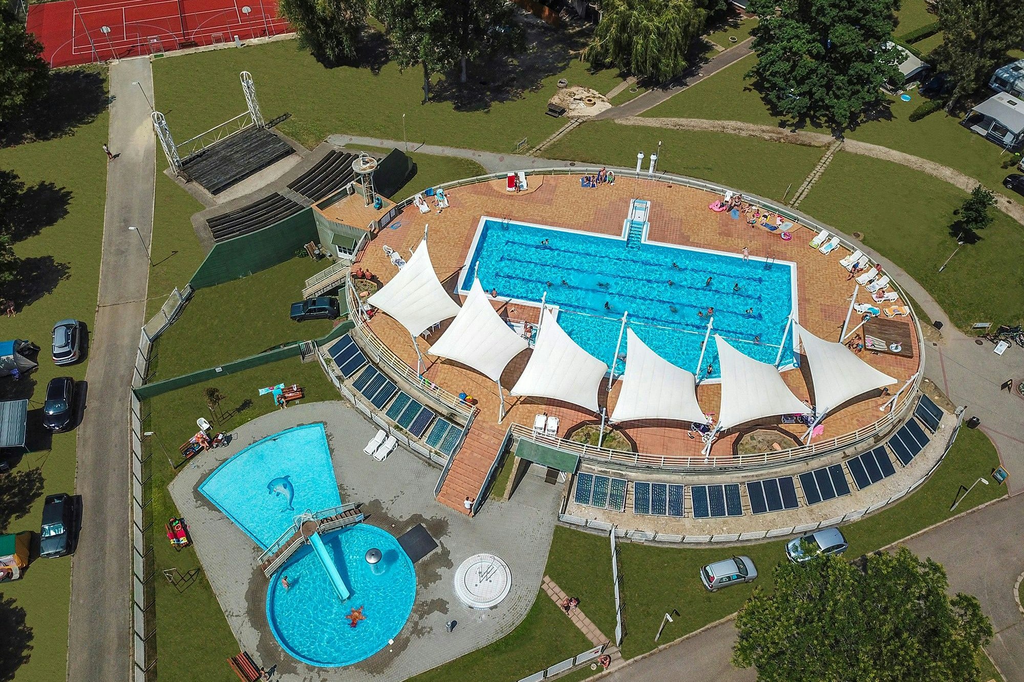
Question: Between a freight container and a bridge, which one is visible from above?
bridge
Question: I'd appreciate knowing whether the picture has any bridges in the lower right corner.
No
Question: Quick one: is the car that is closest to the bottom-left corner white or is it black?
black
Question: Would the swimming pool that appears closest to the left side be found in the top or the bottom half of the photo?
bottom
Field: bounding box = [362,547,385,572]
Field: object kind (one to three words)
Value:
fountain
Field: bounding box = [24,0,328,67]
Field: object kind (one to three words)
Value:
sports court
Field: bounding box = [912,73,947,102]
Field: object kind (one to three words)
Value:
car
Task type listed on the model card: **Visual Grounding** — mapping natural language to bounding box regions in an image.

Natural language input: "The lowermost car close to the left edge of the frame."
[39,495,77,564]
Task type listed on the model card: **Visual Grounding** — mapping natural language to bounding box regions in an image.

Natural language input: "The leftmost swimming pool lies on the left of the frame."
[199,423,341,560]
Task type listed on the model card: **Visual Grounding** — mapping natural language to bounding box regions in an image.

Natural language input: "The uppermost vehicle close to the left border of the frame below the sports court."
[51,323,85,371]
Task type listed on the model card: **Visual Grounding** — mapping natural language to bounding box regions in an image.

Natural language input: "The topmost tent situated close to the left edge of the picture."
[0,338,39,378]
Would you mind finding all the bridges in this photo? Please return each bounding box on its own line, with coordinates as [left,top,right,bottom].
[259,498,366,580]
